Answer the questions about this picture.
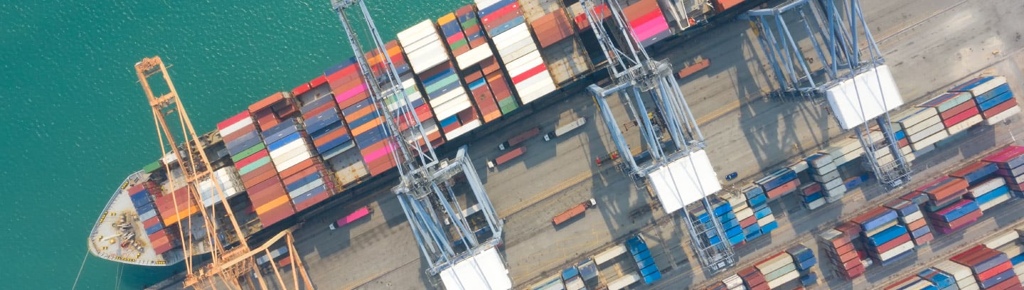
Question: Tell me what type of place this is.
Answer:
port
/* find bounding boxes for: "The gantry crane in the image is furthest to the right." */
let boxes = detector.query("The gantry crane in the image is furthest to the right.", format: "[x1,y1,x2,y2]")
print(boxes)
[727,0,916,194]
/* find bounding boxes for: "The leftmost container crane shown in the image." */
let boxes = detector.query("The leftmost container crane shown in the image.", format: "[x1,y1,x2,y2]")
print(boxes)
[132,58,351,290]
